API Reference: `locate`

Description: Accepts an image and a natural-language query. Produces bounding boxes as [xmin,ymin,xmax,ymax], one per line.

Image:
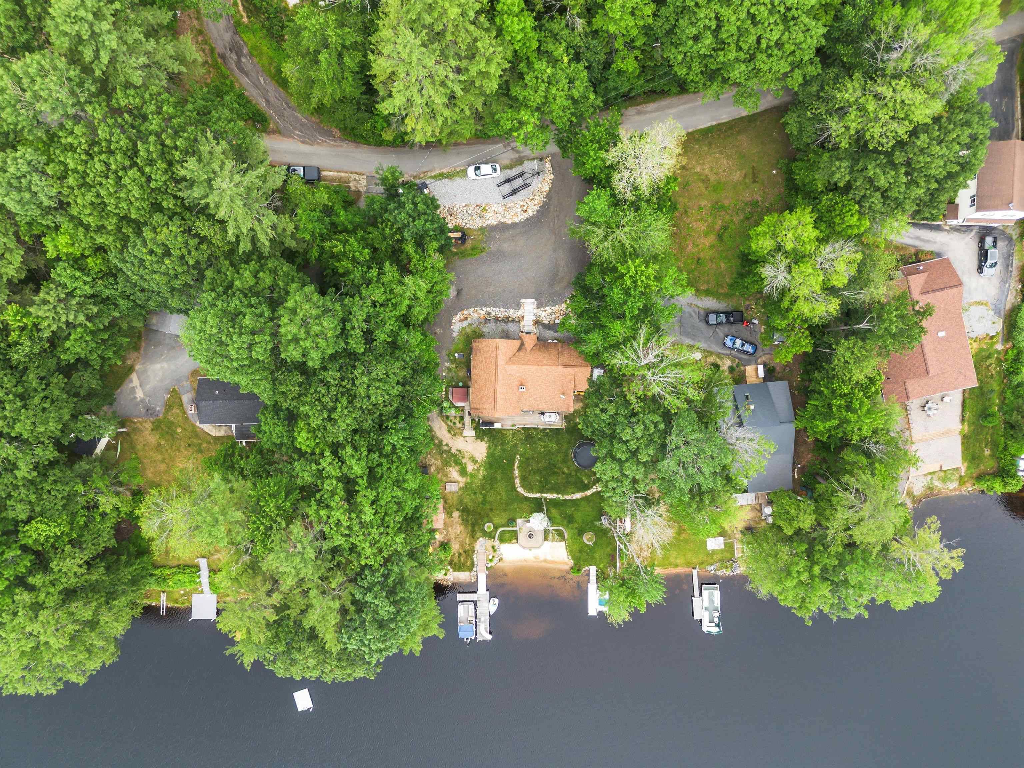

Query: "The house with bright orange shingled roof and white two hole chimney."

[470,332,590,416]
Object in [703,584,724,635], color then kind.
white boat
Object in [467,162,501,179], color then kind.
white car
